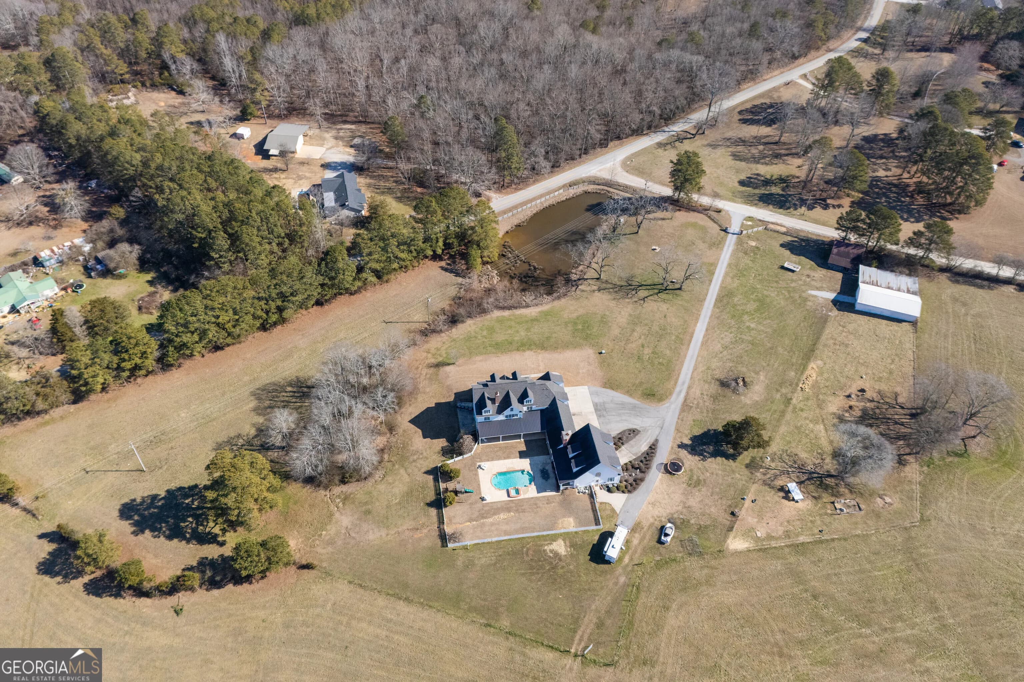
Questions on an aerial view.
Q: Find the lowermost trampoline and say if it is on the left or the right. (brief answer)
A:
right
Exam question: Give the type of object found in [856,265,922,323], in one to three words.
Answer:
barn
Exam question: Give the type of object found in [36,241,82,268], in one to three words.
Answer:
shed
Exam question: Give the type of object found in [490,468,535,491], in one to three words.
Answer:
swimming pool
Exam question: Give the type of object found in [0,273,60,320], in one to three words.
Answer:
building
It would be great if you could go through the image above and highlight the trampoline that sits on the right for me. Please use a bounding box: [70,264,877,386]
[666,454,687,475]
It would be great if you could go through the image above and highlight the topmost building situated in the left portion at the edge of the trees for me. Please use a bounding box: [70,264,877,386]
[261,123,317,160]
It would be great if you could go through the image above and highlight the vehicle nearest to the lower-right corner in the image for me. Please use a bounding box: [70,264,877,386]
[661,522,674,543]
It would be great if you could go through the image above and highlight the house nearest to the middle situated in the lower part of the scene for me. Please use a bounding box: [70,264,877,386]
[471,371,623,492]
